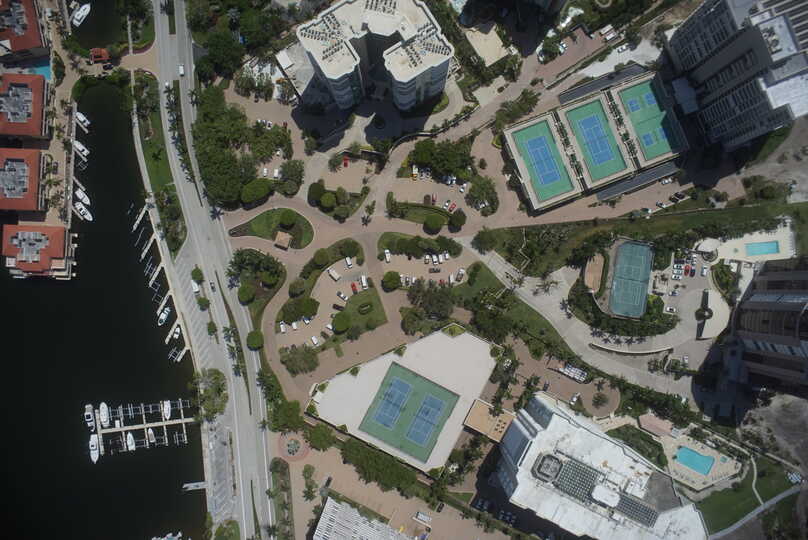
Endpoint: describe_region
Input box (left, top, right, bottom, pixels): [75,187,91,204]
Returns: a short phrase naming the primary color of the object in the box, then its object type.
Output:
white boat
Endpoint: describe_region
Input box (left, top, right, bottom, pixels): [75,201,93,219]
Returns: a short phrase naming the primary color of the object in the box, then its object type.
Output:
white boat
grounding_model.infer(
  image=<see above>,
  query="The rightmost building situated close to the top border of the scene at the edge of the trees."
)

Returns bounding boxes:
[667,0,808,148]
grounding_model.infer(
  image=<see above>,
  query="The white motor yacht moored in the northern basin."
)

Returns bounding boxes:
[73,3,91,28]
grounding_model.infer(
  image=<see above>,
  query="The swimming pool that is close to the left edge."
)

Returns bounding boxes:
[0,60,53,81]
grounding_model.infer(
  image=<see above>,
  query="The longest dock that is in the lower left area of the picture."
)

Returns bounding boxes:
[94,398,197,456]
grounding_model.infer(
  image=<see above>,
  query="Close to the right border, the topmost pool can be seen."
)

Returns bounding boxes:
[705,214,796,264]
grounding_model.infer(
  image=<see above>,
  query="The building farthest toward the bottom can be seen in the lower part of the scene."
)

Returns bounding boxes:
[313,493,423,540]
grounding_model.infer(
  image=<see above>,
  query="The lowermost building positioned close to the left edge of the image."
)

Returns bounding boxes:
[2,223,77,279]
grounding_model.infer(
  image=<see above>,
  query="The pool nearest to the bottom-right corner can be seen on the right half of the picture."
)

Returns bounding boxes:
[608,418,741,488]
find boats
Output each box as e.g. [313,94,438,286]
[164,399,171,419]
[99,403,109,429]
[149,428,155,443]
[73,3,91,28]
[85,403,95,429]
[75,187,91,204]
[75,201,93,219]
[128,433,136,452]
[77,114,92,127]
[153,533,182,540]
[159,306,171,324]
[76,141,91,155]
[89,433,99,463]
